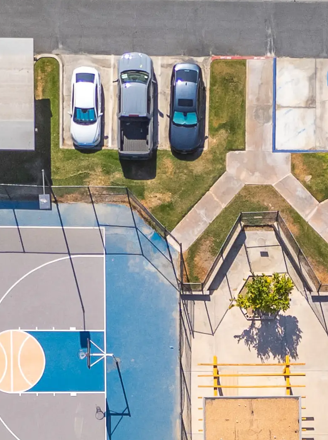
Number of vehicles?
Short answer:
3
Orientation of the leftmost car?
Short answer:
from top to bottom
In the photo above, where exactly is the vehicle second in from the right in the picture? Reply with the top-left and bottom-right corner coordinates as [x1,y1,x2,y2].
[114,53,157,163]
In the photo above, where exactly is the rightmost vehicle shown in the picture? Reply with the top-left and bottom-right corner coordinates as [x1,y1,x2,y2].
[166,64,207,154]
